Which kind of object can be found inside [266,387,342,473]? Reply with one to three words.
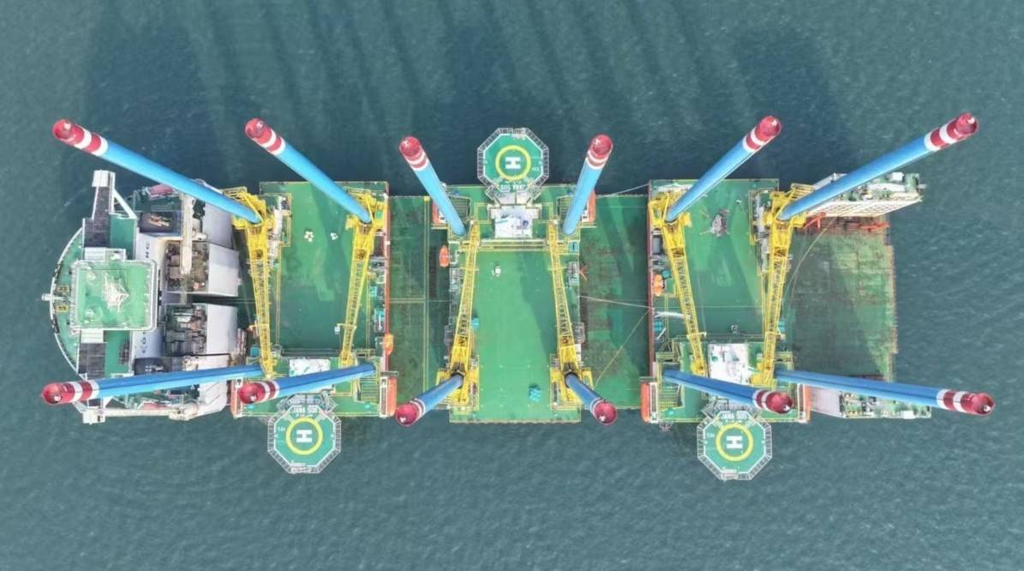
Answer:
helipad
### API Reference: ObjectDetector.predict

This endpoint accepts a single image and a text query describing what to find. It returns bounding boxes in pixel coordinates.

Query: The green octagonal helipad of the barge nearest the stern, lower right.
[695,395,772,480]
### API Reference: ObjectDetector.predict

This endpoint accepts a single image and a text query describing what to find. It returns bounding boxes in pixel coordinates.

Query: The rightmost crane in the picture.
[750,183,815,385]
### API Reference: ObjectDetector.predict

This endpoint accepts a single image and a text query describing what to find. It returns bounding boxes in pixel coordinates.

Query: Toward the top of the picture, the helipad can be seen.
[475,127,548,209]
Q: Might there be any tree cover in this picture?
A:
No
